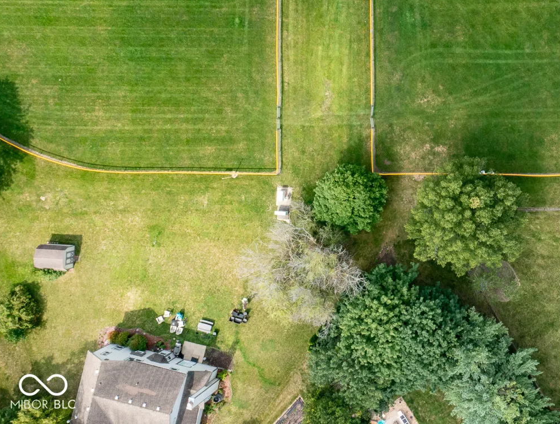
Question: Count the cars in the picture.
0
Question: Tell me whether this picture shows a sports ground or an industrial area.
sports ground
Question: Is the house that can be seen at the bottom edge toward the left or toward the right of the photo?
left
